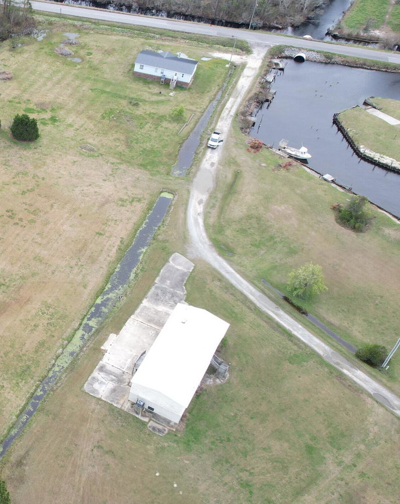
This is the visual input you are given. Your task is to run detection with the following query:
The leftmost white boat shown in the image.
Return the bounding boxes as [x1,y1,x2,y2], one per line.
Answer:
[278,143,312,158]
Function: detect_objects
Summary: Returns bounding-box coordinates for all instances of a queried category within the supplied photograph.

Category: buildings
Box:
[128,304,228,426]
[134,49,199,87]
